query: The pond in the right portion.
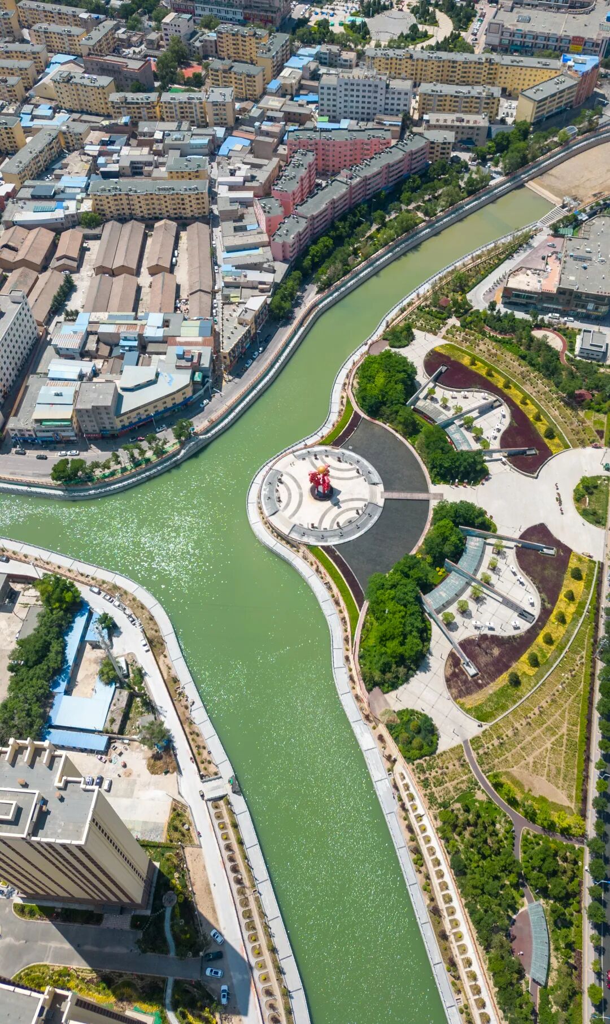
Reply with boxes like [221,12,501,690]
[333,419,429,589]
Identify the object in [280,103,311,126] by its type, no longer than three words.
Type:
house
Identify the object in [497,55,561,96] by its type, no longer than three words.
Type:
building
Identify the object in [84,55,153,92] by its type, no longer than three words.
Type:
building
